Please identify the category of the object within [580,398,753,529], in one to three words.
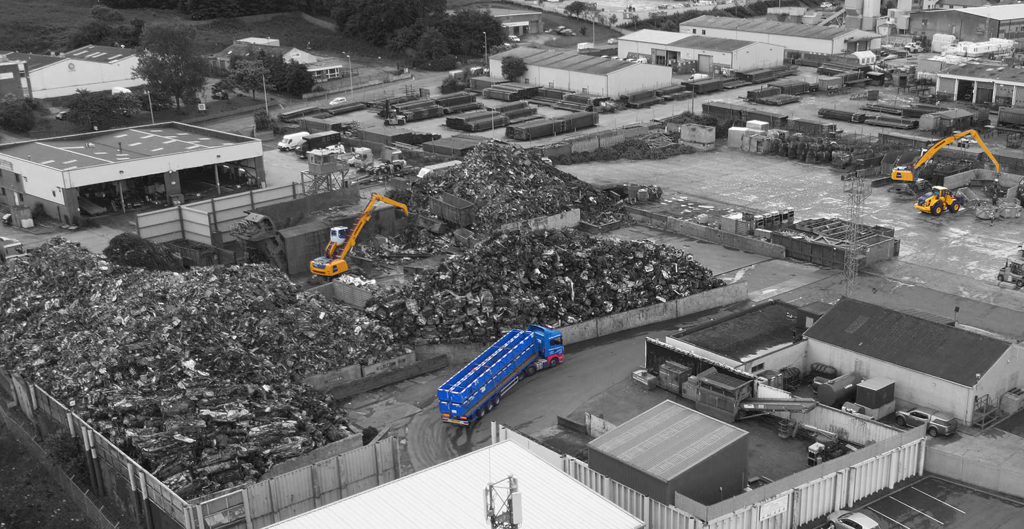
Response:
shed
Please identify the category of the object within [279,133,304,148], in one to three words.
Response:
vehicle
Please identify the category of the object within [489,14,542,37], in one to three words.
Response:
building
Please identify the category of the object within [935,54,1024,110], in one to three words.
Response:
building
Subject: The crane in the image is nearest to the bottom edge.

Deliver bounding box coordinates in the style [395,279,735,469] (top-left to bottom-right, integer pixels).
[311,190,419,282]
